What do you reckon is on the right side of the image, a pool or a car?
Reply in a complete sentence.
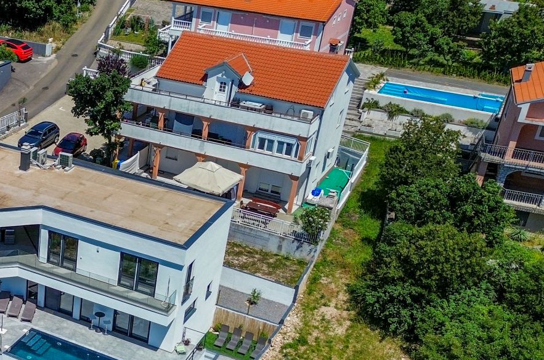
Visible on the right side of the image is a pool.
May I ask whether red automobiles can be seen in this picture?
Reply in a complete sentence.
Yes, the frame does contain a red automobile.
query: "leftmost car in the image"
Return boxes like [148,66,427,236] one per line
[0,40,37,59]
